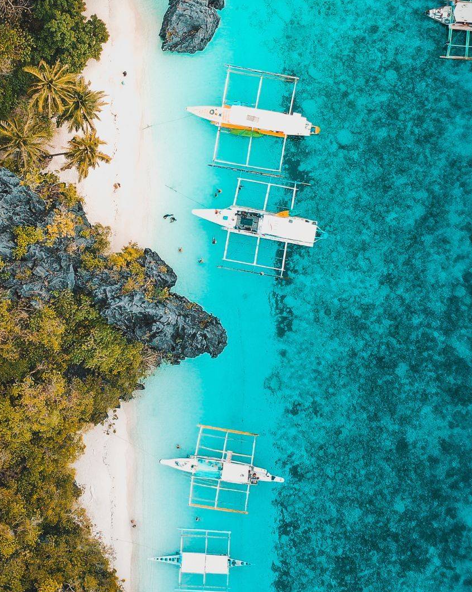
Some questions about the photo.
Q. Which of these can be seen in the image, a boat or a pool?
boat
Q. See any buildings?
No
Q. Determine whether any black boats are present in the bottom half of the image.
No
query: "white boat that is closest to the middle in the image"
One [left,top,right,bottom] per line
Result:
[191,170,327,279]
